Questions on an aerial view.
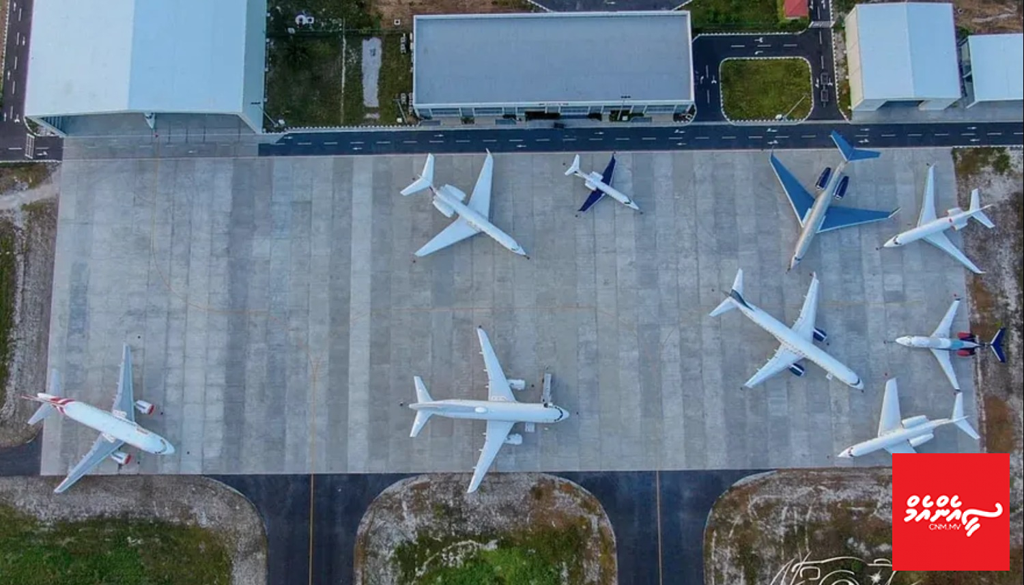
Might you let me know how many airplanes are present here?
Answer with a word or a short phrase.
9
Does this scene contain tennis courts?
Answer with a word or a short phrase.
No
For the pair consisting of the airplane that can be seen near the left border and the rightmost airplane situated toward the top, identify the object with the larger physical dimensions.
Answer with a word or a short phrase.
the airplane that can be seen near the left border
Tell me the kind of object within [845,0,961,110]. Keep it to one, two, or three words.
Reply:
hangar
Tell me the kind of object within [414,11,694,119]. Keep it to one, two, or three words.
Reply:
building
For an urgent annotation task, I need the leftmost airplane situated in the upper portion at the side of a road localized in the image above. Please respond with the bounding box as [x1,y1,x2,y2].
[401,148,525,256]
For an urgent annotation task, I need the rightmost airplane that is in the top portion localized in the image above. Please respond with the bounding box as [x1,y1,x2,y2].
[884,163,994,272]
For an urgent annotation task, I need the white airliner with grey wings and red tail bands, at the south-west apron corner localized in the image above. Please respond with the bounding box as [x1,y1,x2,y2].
[16,343,175,495]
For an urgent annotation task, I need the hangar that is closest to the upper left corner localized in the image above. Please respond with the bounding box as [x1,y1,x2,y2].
[27,0,267,136]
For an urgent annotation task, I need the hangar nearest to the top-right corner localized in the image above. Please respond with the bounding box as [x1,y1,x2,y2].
[960,33,1024,109]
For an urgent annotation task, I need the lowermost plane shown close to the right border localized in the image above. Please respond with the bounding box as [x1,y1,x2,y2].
[838,378,981,486]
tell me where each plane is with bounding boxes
[838,378,981,486]
[896,299,1006,390]
[16,343,175,495]
[710,270,863,388]
[884,163,994,272]
[771,131,903,267]
[401,148,525,256]
[565,155,638,211]
[408,329,569,492]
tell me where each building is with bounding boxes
[27,0,267,136]
[845,0,961,110]
[960,33,1024,109]
[782,0,808,21]
[414,11,694,119]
